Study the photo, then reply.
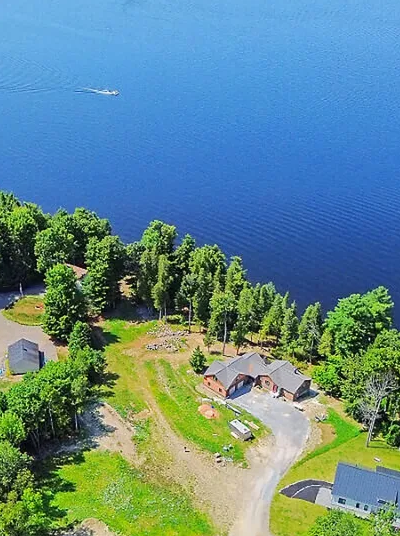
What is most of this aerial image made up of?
water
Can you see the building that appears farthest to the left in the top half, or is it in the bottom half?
bottom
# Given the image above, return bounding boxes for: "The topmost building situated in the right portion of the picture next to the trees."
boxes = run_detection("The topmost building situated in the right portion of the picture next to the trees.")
[201,352,311,403]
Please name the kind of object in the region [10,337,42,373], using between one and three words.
building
